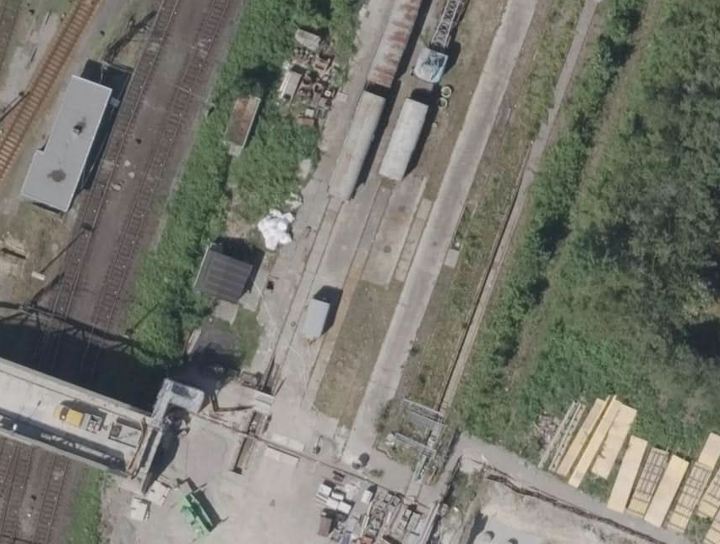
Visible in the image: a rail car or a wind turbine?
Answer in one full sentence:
It is a rail car that can be seen here.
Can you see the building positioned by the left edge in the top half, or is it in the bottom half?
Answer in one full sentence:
The building positioned by the left edge is in the top half of the image.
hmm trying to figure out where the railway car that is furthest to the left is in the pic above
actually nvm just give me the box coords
[326,89,384,203]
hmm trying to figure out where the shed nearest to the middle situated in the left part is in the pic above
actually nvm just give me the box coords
[194,247,253,300]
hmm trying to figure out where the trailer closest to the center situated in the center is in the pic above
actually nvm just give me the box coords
[301,298,328,348]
